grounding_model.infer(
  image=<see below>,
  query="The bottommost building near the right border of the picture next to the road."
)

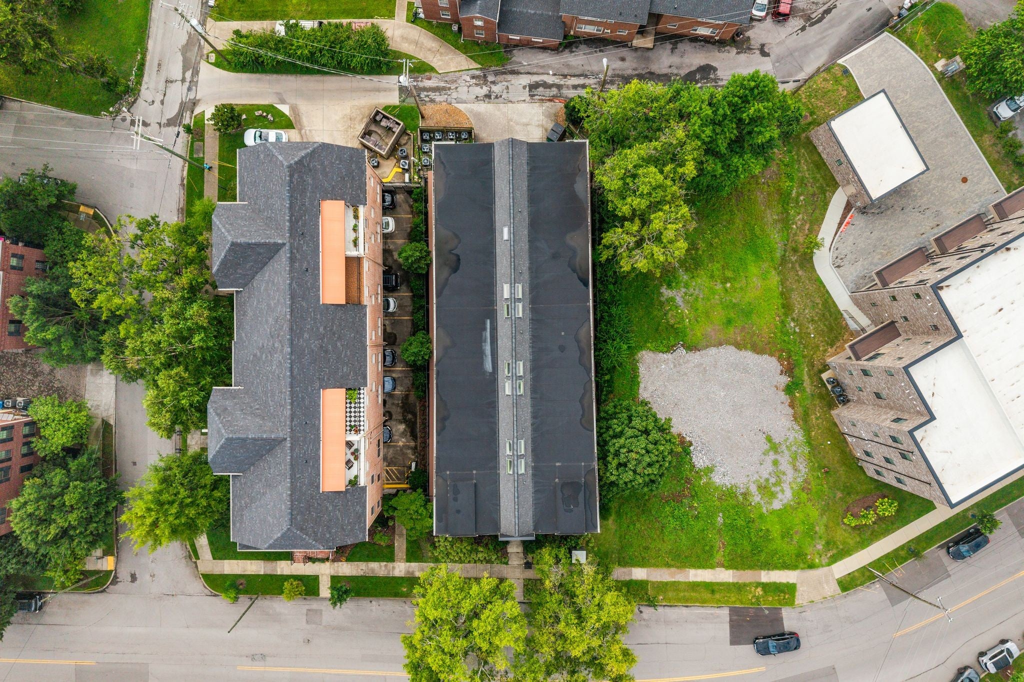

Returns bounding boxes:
[827,180,1024,509]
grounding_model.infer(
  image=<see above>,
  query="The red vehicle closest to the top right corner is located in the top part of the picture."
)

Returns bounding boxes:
[771,0,795,23]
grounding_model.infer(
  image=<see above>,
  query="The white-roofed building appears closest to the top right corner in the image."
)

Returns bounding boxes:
[809,89,930,209]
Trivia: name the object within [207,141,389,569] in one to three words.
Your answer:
building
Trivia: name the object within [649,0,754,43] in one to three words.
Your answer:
house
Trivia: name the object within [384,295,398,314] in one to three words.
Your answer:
car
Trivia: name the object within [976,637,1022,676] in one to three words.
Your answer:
car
